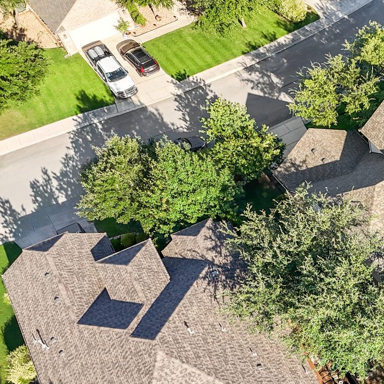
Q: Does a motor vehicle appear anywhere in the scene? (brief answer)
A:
Yes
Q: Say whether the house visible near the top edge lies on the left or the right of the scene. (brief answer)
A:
left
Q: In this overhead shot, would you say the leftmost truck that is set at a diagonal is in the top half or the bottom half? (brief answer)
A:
top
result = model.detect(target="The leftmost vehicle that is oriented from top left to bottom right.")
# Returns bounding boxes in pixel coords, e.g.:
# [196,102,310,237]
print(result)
[83,39,132,91]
